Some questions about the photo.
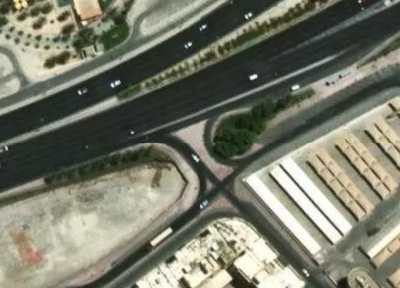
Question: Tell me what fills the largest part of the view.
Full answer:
The largest share of the image is taken up by paved ground.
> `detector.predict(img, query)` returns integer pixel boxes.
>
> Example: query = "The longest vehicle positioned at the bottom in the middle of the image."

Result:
[149,227,174,247]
